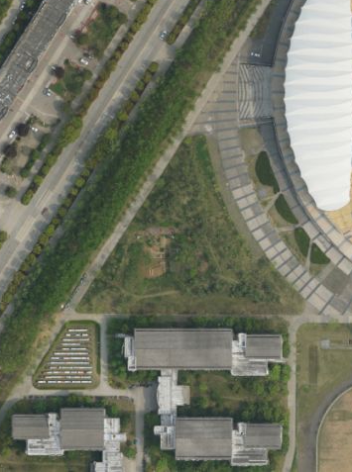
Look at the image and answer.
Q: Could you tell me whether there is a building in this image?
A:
Yes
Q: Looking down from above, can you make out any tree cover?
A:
Yes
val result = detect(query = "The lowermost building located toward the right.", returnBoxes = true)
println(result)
[154,418,282,467]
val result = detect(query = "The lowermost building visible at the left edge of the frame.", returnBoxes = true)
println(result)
[10,408,126,472]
